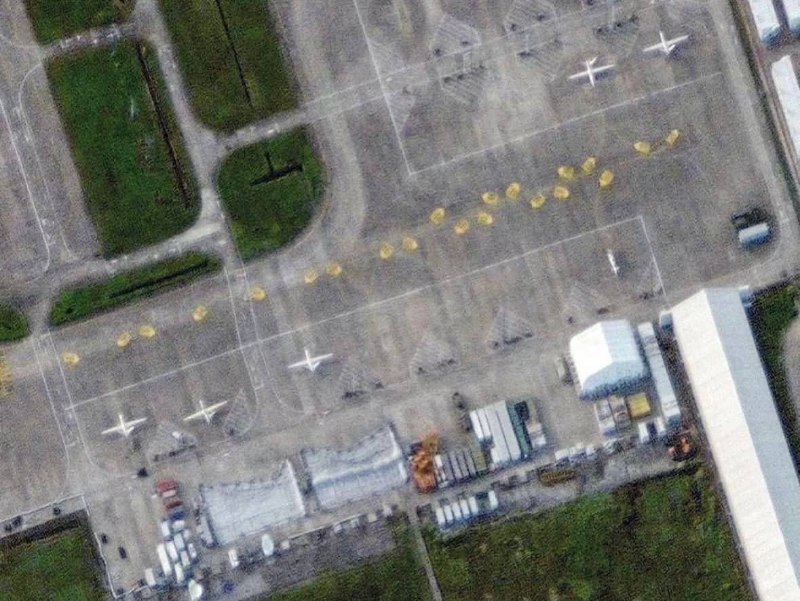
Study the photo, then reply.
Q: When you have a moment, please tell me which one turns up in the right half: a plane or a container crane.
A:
plane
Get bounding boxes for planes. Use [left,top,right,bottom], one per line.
[568,55,614,86]
[608,250,620,276]
[286,351,332,372]
[641,32,687,54]
[100,415,147,437]
[182,402,228,424]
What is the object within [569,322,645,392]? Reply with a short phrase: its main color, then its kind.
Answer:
white tent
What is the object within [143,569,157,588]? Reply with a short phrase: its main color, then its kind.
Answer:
white vehicle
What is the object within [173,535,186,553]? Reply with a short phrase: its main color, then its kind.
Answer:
white vehicle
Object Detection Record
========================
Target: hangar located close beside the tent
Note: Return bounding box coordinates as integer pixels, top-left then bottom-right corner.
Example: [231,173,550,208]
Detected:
[667,288,800,601]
